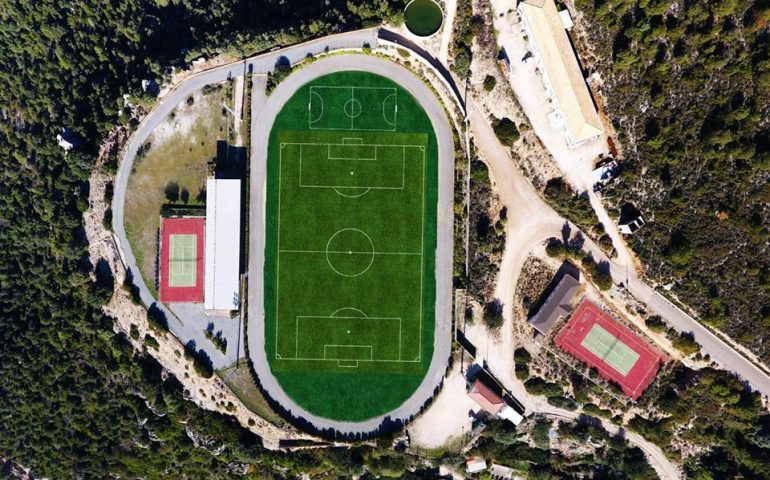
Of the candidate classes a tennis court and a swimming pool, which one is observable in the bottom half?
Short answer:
tennis court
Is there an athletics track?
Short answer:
Yes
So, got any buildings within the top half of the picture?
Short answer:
Yes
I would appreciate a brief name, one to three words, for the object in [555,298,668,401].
tennis court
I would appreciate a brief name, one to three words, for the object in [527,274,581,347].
house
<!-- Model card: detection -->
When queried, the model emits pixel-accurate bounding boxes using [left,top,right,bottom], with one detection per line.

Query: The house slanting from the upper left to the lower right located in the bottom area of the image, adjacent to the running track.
[467,378,523,427]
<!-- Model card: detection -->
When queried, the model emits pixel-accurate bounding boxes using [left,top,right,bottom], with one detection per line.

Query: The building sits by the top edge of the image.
[517,0,604,147]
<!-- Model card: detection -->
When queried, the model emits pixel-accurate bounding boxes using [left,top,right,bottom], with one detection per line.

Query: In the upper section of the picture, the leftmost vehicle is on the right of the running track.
[496,58,511,80]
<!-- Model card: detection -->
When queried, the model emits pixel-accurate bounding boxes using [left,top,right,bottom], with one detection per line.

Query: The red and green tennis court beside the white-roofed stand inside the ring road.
[160,218,205,302]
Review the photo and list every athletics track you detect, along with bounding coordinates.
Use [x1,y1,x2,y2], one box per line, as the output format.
[247,53,454,442]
